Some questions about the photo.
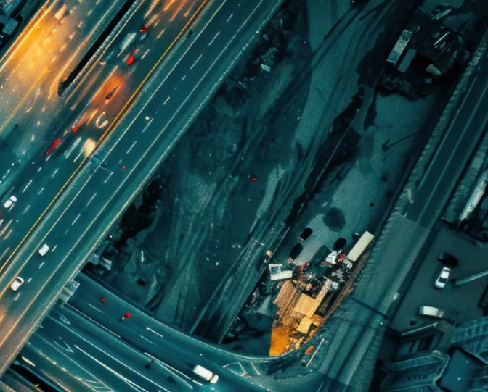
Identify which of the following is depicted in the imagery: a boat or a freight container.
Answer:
freight container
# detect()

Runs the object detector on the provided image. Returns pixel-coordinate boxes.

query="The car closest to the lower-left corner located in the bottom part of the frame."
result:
[10,275,24,291]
